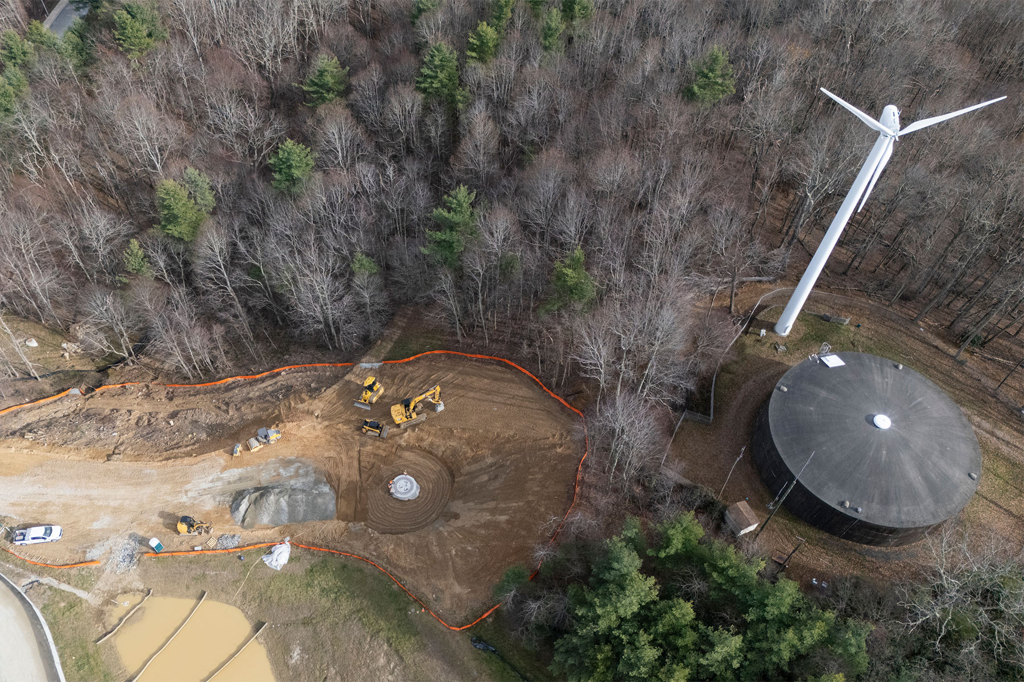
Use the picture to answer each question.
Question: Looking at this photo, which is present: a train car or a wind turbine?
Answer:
wind turbine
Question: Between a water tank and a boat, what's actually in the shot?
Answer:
water tank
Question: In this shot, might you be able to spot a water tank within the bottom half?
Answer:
Yes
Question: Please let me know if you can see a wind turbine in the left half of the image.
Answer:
No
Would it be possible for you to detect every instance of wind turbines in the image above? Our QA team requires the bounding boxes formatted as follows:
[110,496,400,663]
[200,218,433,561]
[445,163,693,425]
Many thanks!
[774,88,1006,337]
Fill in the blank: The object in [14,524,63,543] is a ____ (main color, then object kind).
white vehicle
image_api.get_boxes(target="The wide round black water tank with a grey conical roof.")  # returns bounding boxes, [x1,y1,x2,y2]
[759,341,982,547]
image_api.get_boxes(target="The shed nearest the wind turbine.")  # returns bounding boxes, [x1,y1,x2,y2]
[726,495,763,534]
